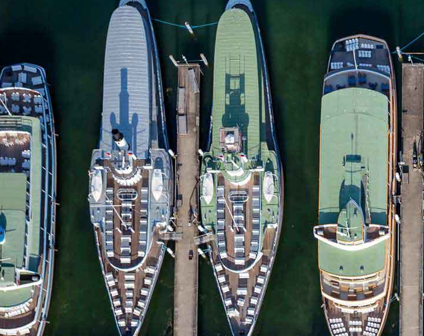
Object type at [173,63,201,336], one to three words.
pier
